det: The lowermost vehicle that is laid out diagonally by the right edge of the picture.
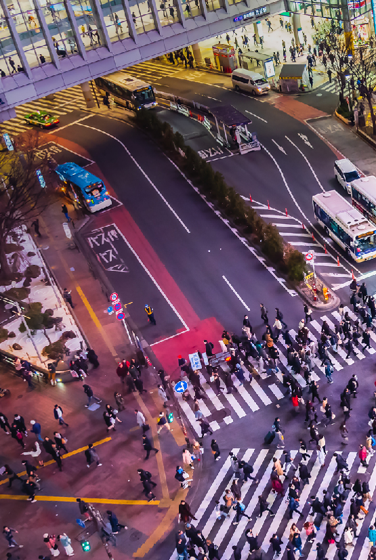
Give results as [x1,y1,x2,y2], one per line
[315,191,376,263]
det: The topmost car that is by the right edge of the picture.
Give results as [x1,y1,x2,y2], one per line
[328,152,361,187]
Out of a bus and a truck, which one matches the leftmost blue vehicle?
bus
